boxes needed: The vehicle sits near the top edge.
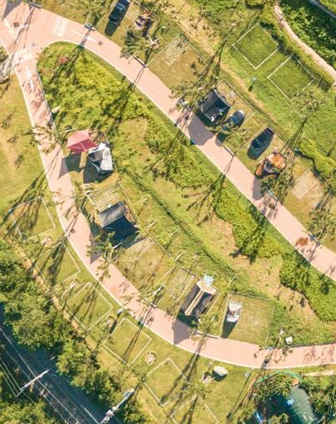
[107,0,132,25]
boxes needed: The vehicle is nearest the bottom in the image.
[248,126,275,156]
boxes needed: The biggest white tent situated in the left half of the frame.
[88,144,113,174]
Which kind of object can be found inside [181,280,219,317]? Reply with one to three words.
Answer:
tent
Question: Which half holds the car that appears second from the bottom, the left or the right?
right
